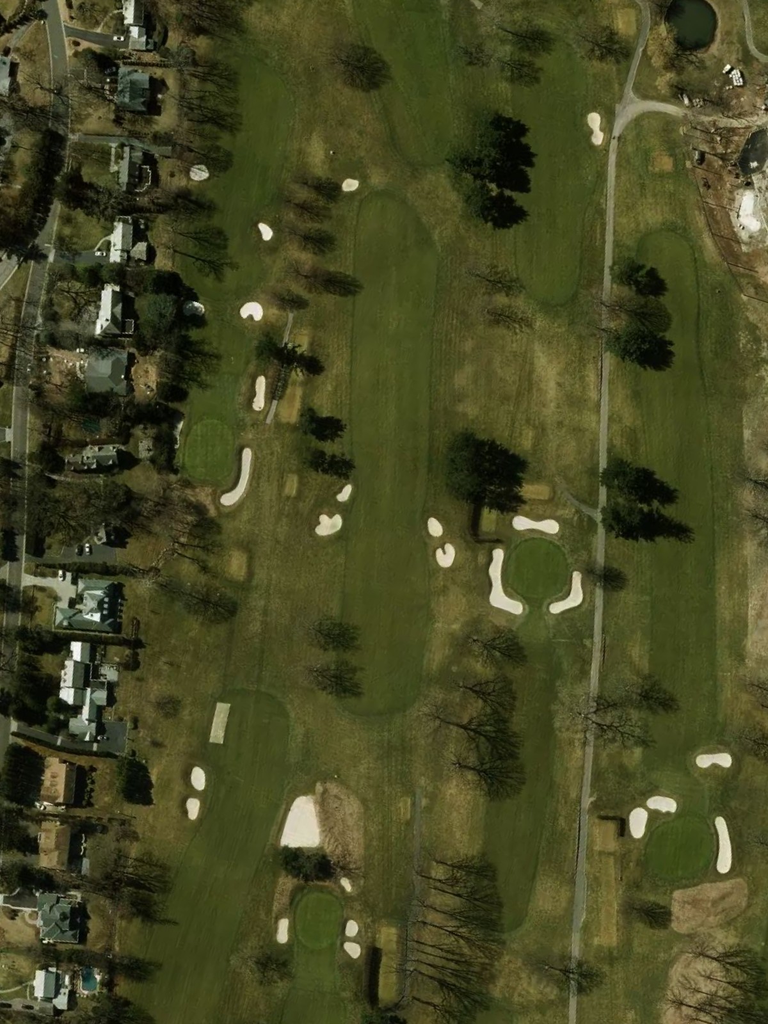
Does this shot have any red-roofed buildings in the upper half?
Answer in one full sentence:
No, I can find no red-roofed building in the upper half.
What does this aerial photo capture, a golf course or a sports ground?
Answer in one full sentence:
The area seen from above is a golf course.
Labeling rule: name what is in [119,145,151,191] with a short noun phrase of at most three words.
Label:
house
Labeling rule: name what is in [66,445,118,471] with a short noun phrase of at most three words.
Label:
house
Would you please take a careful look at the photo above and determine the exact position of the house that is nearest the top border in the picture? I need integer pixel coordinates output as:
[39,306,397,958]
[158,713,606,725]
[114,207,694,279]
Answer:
[123,0,154,50]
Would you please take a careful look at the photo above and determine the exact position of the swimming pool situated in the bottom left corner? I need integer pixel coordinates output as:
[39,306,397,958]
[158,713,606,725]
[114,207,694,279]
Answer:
[78,964,101,995]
